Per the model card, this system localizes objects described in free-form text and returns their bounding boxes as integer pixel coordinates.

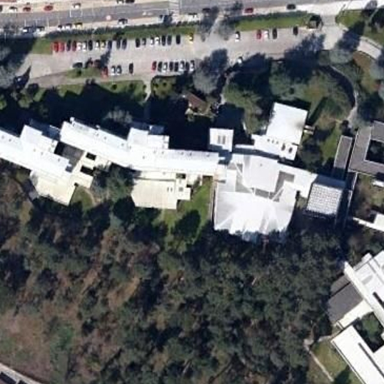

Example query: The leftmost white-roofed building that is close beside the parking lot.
[0,117,227,209]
